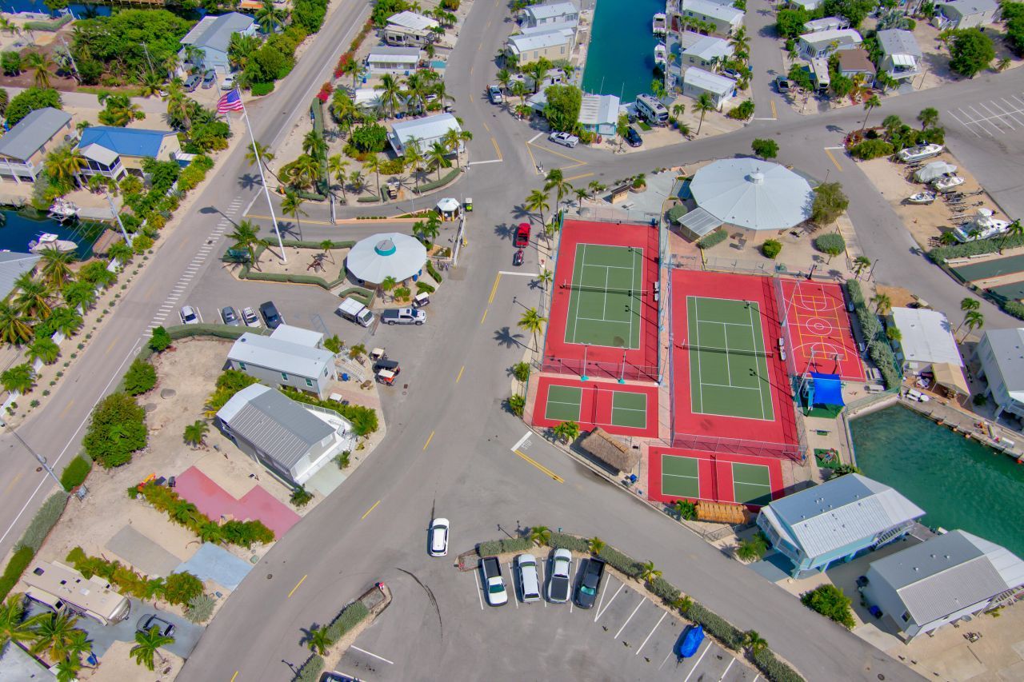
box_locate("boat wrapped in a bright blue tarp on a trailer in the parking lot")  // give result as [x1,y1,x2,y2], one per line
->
[678,622,707,663]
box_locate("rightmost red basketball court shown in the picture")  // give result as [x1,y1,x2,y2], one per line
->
[774,277,865,381]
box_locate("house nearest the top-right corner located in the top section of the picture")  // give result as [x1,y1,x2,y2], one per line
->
[932,0,999,34]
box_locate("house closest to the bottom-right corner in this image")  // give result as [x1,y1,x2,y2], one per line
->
[863,517,1024,642]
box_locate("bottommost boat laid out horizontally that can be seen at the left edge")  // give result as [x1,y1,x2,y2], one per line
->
[28,231,78,254]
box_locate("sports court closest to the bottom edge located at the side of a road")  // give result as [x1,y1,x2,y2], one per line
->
[648,446,783,514]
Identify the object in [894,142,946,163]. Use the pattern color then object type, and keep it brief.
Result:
white boat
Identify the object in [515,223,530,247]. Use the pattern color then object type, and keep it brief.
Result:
red vehicle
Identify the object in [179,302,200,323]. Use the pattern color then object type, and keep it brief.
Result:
white car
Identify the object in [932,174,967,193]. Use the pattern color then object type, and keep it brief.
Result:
white boat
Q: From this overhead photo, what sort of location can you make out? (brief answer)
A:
residential area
